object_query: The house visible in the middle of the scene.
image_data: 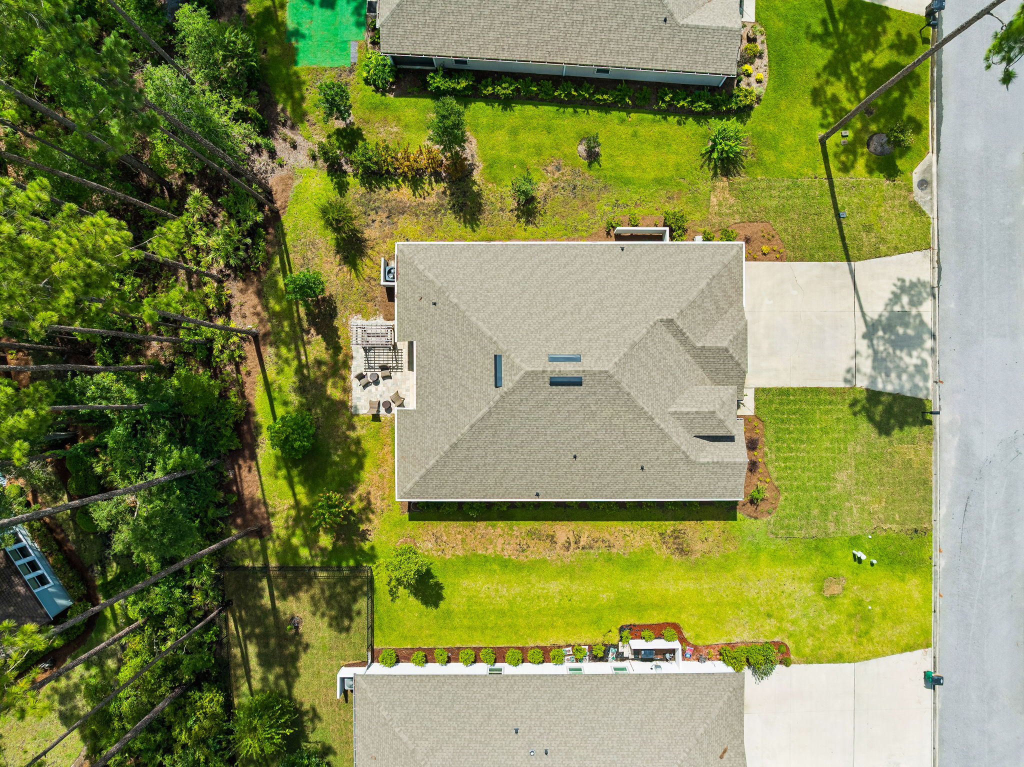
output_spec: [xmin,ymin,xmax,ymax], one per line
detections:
[393,240,751,503]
